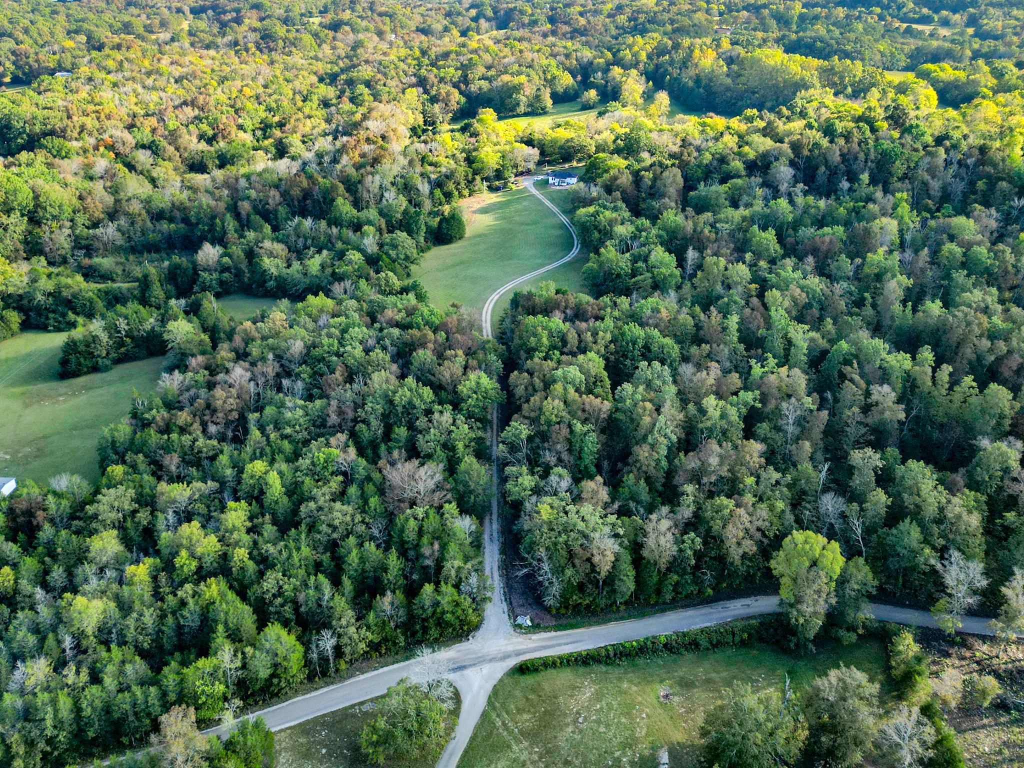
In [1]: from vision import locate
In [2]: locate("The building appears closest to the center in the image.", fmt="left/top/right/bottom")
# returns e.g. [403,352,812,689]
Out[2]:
[545,169,579,187]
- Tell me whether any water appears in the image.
No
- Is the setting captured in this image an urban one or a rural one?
rural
